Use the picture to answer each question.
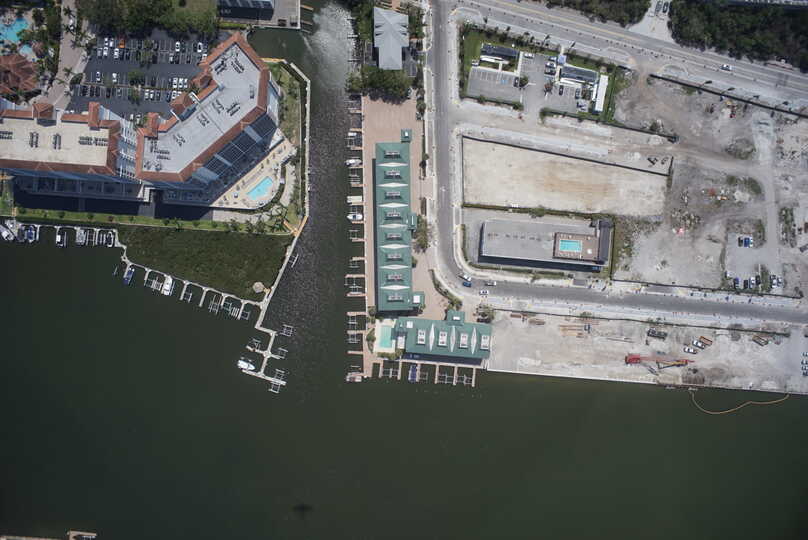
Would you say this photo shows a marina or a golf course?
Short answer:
marina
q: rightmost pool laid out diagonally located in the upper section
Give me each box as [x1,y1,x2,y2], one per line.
[245,176,275,201]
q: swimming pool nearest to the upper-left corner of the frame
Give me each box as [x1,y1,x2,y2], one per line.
[0,17,30,44]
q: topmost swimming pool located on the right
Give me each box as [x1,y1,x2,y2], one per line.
[559,240,582,253]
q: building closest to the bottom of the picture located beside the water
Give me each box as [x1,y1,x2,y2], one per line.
[391,309,491,358]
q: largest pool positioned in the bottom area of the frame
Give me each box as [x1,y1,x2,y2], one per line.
[375,320,398,353]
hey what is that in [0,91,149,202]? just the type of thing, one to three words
building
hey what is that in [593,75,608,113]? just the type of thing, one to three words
building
